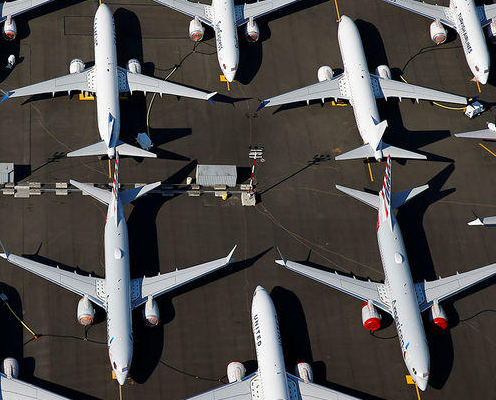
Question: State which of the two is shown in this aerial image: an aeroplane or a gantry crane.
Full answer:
This aerial view contains an aeroplane.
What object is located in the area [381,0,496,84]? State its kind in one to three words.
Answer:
airplane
